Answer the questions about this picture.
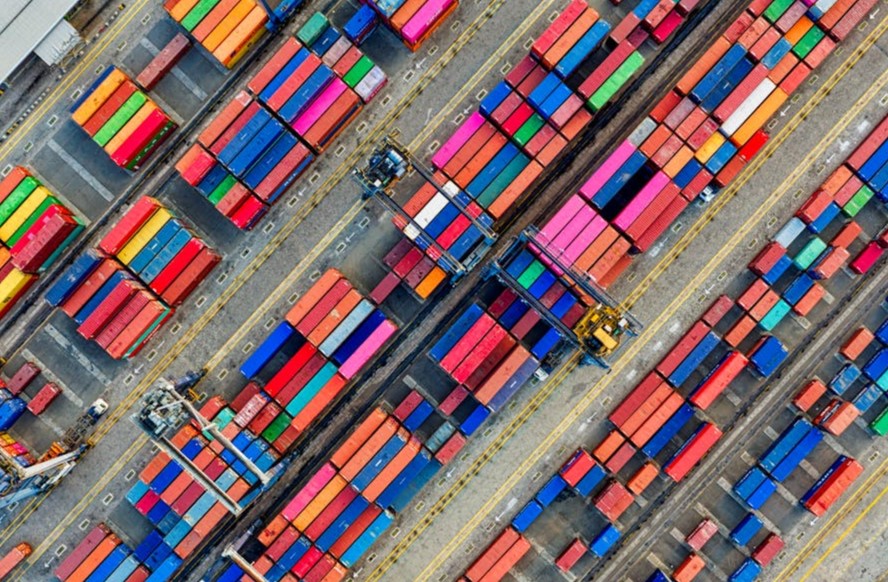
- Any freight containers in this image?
Yes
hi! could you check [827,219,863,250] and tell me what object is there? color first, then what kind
red shipping container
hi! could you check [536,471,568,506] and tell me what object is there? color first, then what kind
blue shipping container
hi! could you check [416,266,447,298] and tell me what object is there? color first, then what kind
orange shipping container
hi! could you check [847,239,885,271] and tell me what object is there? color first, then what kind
red shipping container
